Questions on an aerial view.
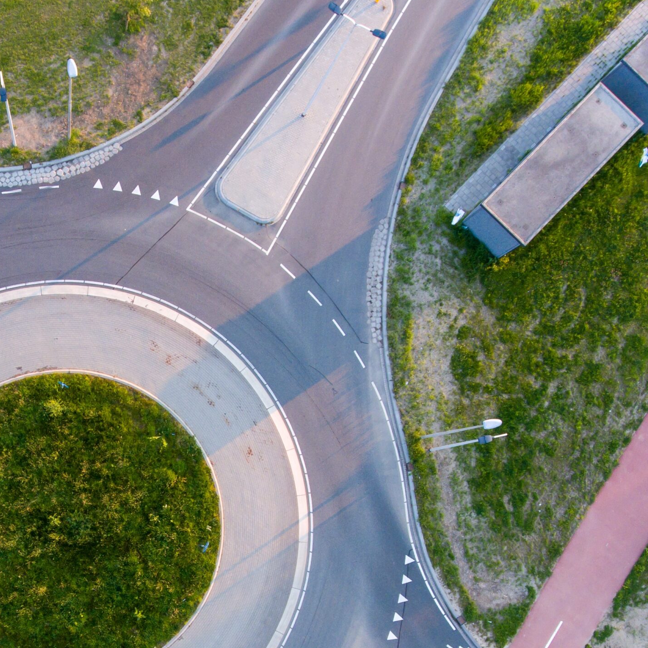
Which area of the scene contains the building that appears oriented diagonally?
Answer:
top right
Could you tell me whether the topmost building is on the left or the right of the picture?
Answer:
right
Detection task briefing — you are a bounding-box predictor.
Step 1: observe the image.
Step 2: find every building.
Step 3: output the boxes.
[464,82,643,258]
[604,33,648,115]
